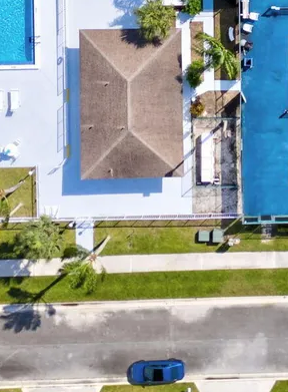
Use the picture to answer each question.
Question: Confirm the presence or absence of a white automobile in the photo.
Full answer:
No, no white automobile is visible in the view.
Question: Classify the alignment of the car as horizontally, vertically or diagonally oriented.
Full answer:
From this overhead view, the car appears to run horizontally.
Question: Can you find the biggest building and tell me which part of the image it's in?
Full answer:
The biggest building is located in the top region of the scene.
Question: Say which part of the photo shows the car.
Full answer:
The car appears toward the bottom of the photo.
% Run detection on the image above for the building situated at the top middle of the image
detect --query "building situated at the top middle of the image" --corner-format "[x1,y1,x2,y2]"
[79,28,185,180]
